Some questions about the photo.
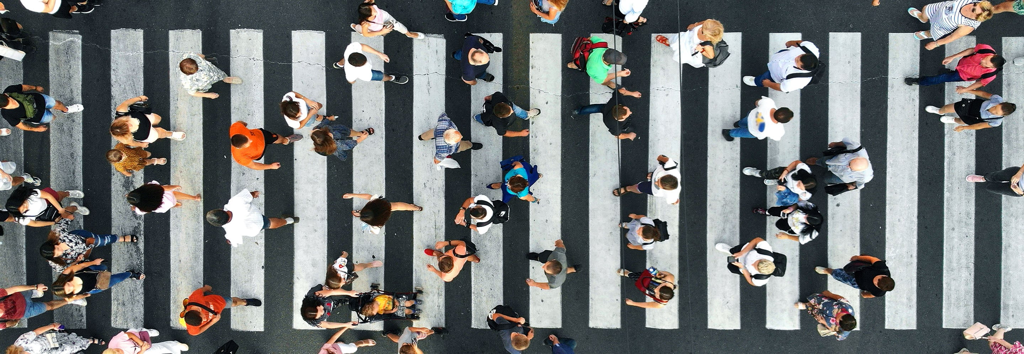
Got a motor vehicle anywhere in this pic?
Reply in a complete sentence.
No, there's no motor vehicle here.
